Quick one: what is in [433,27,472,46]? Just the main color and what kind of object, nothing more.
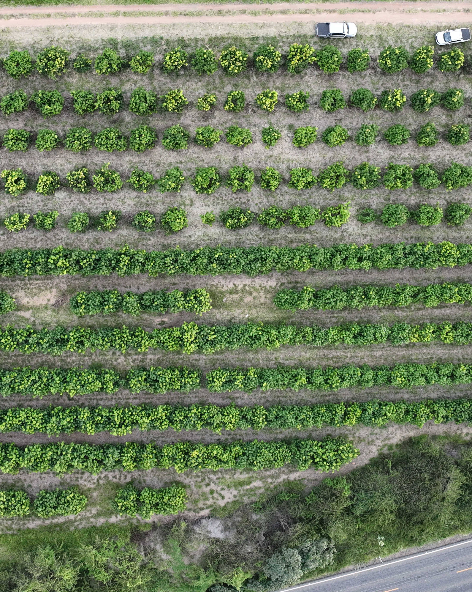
white vehicle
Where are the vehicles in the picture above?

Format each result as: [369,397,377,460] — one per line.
[315,21,356,39]
[433,27,472,46]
